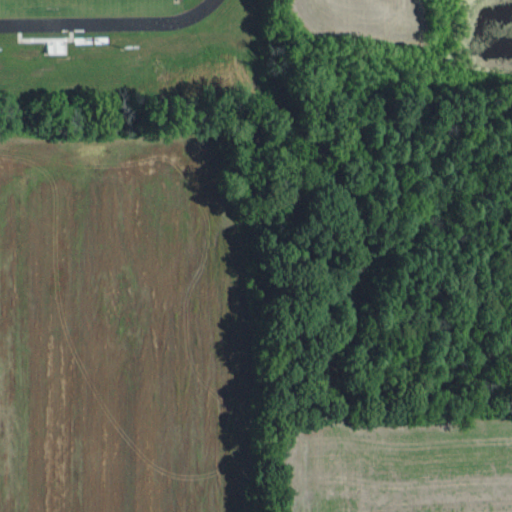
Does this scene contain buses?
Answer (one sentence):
No, no bus can be seen from above.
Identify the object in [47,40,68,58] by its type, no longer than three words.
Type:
building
